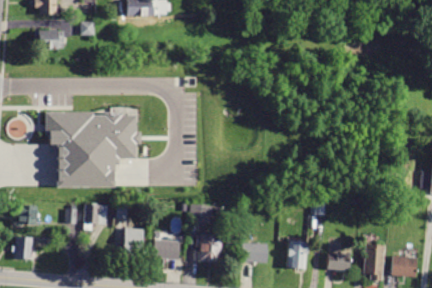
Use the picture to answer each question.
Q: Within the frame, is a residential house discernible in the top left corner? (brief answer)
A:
Yes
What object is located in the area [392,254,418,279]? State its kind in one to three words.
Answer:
house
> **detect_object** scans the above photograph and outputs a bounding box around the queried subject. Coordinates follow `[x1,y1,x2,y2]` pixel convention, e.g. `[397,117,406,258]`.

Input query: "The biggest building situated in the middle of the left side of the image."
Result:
[44,106,142,187]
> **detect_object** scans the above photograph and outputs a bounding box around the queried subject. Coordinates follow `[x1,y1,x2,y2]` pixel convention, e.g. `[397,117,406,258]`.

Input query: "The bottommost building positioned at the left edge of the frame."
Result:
[14,236,33,261]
